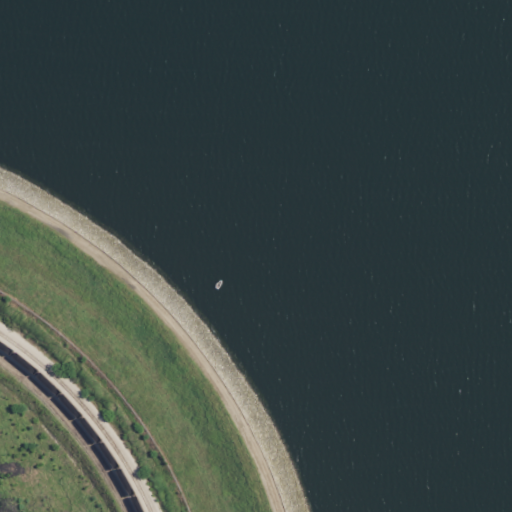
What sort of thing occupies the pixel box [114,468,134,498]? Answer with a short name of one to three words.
rail car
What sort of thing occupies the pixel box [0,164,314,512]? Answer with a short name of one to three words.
dam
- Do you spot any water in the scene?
Yes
